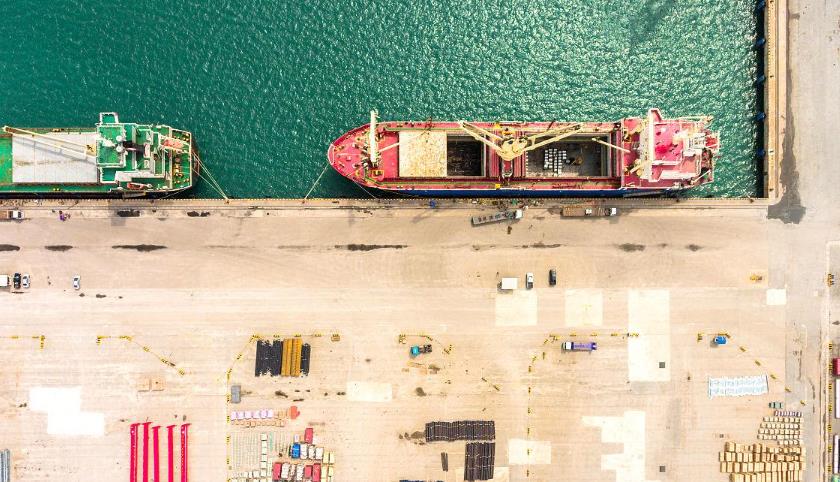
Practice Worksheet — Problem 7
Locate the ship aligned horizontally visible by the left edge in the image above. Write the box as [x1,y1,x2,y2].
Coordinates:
[0,112,199,196]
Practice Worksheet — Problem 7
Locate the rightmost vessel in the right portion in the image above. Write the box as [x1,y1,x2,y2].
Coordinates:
[328,107,721,194]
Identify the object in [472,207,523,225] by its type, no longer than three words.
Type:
vehicle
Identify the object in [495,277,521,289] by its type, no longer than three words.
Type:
vehicle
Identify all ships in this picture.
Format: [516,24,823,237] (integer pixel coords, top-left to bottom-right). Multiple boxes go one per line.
[0,112,199,196]
[328,107,721,194]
